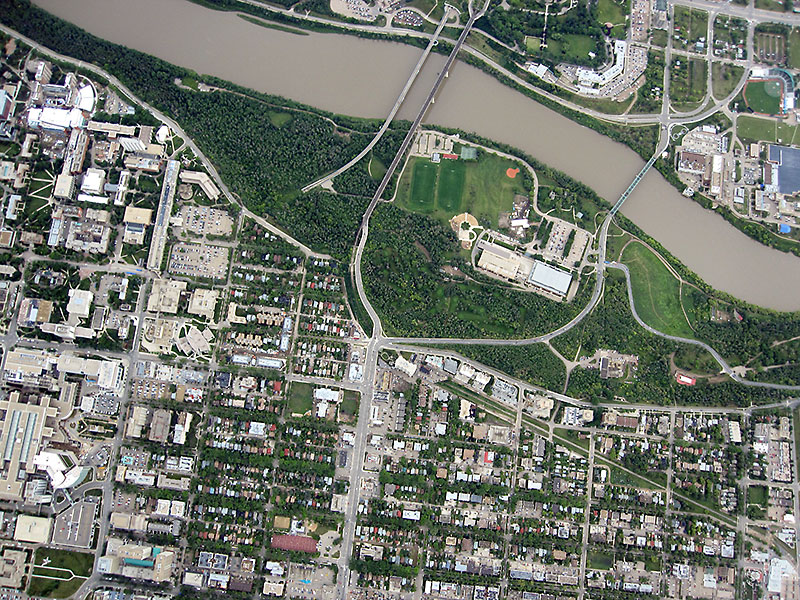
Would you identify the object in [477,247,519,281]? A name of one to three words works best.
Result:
building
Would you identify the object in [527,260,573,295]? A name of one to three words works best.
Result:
building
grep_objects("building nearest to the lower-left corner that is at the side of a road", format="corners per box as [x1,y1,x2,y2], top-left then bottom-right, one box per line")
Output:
[0,549,30,588]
